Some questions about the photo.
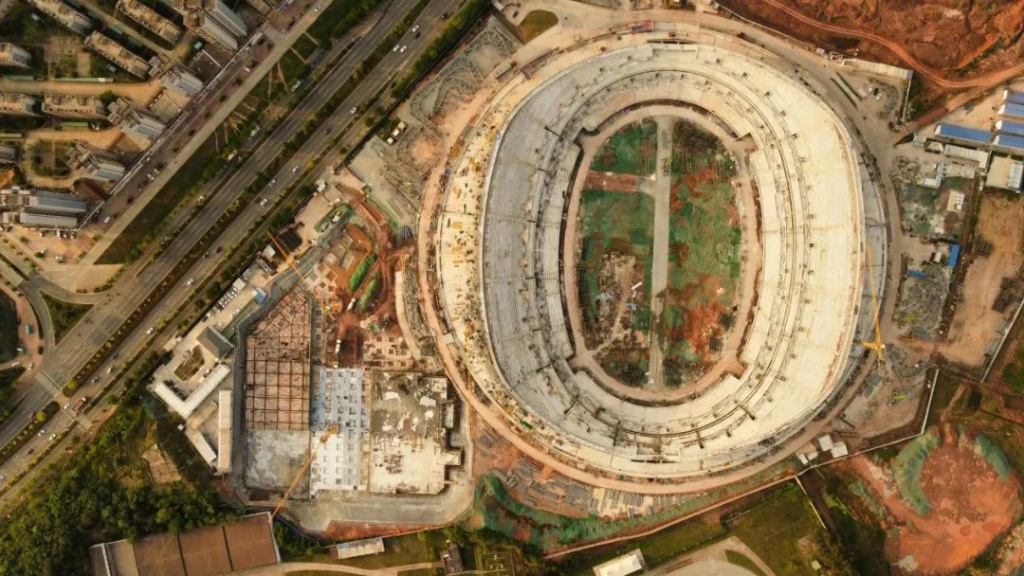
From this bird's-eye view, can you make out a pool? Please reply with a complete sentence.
No, this view has no pool in it.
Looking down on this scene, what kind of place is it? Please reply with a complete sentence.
It's a sports ground.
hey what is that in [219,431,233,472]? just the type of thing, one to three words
house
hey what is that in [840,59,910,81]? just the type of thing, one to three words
shed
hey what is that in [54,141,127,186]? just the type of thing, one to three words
building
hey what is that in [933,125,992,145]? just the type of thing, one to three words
shed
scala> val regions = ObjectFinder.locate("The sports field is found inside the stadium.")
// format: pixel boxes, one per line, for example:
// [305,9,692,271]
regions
[578,114,744,391]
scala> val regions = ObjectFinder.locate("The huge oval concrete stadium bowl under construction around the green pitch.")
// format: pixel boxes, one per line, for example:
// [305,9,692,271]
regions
[440,22,887,477]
